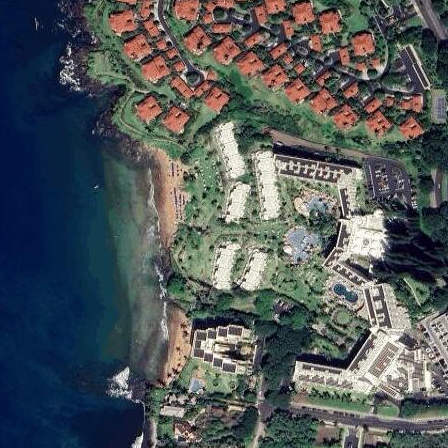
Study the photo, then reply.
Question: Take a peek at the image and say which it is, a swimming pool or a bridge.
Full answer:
I can see a swimming pool in this picture.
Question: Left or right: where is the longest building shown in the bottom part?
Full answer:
You can find the longest building shown in the bottom part on the right side of the picture.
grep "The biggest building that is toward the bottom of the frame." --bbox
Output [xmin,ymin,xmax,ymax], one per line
[275,154,431,401]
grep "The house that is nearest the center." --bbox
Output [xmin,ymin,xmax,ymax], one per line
[221,183,247,221]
